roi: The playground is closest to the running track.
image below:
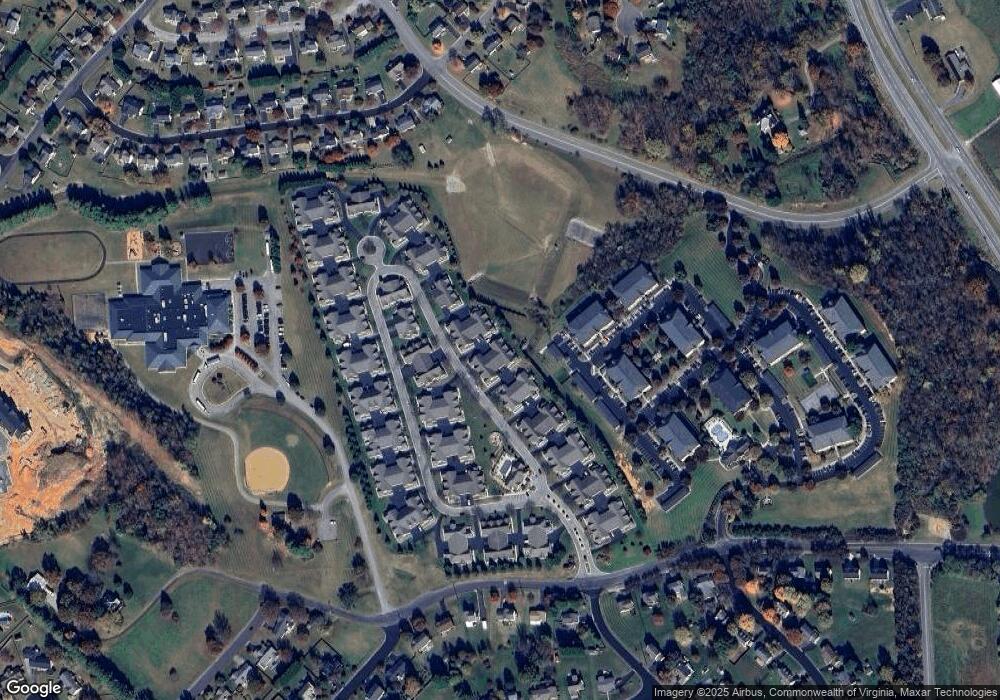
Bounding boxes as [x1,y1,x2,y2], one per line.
[128,231,143,259]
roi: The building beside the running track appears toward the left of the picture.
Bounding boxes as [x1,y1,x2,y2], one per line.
[107,259,231,376]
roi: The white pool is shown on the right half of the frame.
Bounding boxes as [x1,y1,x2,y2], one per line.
[703,416,736,449]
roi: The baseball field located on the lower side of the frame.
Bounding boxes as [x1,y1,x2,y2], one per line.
[245,448,290,495]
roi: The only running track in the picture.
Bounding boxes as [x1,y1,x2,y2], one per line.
[0,231,104,286]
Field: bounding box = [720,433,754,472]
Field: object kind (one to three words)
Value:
building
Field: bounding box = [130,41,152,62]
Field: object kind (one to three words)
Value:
house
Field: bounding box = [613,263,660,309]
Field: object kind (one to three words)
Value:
building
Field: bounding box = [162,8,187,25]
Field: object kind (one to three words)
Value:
house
